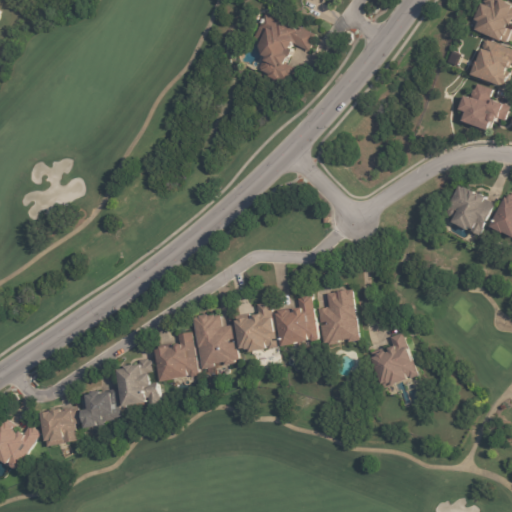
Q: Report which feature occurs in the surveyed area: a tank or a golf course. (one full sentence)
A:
There is a golf course in the scene.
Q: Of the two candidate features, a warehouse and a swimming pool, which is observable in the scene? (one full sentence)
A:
I can see a swimming pool in this picture.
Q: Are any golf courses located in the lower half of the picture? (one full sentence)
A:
Yes, the scene does show a golf course in the lower half of the picture.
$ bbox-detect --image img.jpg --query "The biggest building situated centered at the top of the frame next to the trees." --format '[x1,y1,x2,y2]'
[255,15,317,80]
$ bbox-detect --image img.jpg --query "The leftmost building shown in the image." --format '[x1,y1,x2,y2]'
[0,419,42,467]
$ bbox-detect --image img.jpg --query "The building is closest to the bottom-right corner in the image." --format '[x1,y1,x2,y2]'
[372,333,420,386]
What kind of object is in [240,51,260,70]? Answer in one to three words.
swimming pool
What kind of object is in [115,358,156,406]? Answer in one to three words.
house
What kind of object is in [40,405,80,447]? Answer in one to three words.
house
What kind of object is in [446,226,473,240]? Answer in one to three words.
swimming pool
